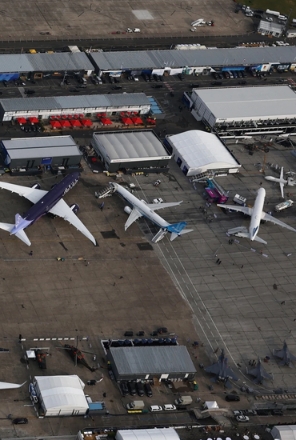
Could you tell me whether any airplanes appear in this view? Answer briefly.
Yes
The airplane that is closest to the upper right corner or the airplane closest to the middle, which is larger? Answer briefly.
the airplane closest to the middle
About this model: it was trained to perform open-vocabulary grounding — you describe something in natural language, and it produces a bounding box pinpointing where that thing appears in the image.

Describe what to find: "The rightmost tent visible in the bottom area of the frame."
[270,420,296,440]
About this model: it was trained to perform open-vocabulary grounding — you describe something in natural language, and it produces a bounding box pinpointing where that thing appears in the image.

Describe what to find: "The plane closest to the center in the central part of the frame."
[110,182,192,241]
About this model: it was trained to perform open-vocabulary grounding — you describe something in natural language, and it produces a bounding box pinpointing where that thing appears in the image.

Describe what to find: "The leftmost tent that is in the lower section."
[30,374,91,417]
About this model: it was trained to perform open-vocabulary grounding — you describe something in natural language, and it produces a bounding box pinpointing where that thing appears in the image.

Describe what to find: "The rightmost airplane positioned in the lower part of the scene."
[273,342,296,370]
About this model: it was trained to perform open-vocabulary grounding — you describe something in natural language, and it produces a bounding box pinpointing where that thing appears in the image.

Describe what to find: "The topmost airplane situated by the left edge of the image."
[0,170,94,249]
